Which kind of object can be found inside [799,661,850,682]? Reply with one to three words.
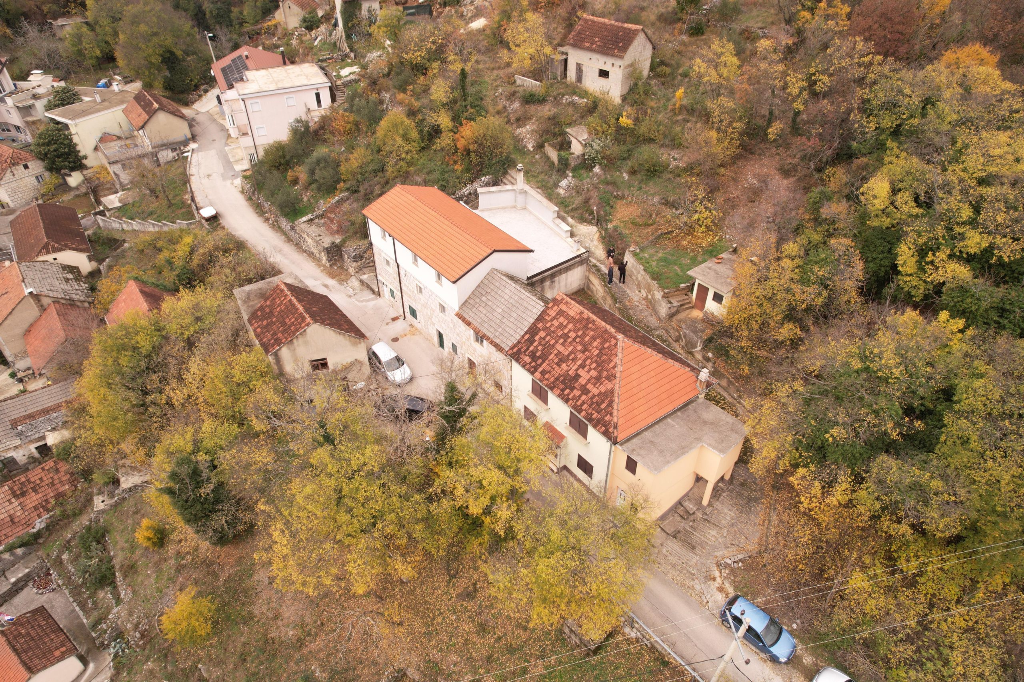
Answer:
car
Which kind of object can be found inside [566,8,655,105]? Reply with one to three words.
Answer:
building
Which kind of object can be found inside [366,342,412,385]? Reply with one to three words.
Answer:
car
